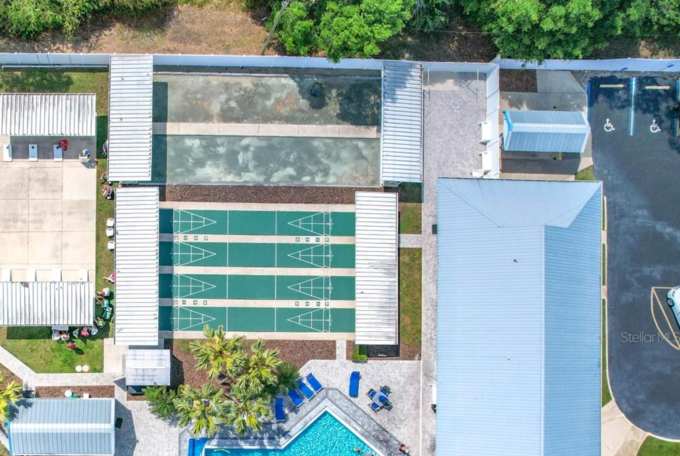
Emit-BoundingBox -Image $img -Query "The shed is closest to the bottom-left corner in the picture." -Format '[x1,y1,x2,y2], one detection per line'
[6,397,116,456]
